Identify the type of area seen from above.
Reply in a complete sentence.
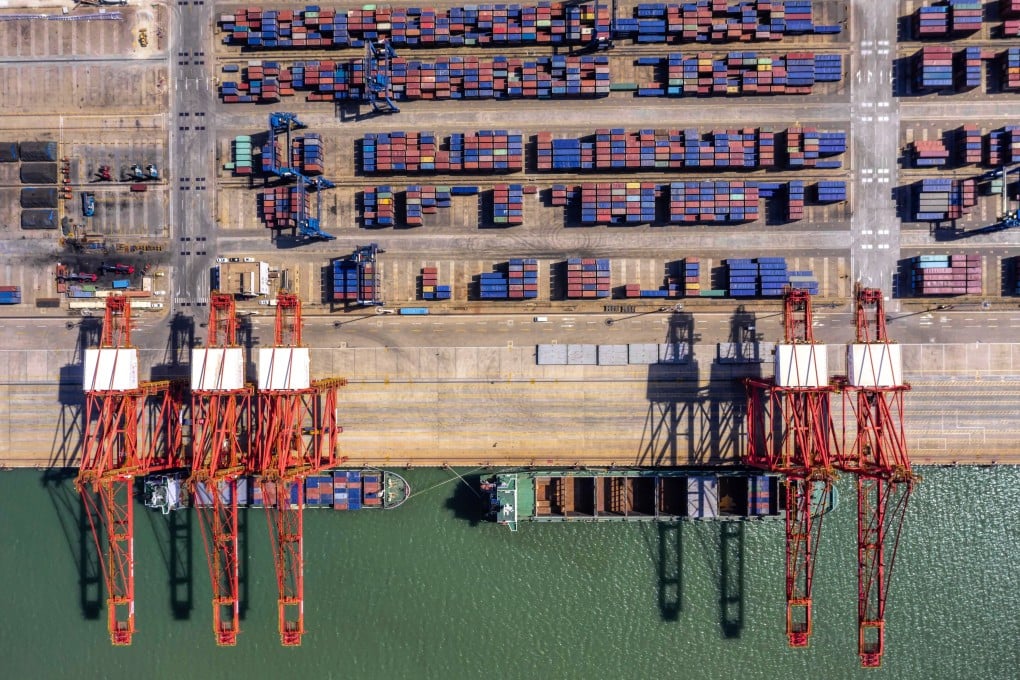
What you see here is a port.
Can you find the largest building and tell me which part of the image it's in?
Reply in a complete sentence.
The largest building is located in the left region of the scene.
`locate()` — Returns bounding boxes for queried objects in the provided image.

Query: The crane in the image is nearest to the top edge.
[585,0,618,51]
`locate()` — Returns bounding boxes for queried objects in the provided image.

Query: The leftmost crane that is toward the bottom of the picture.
[72,290,204,647]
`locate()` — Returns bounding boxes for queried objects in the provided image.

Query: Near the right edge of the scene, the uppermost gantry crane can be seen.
[964,165,1020,235]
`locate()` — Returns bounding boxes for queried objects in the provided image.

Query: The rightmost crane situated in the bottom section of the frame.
[792,286,917,668]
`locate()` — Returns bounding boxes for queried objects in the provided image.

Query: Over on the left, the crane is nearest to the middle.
[356,240,391,308]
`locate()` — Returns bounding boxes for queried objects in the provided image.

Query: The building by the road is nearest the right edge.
[219,262,268,296]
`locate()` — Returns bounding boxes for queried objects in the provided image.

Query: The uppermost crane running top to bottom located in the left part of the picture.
[366,36,402,114]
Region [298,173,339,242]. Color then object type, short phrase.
blue container crane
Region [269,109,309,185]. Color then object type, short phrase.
blue container crane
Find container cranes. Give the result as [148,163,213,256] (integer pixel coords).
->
[256,290,352,647]
[298,173,339,242]
[269,109,309,185]
[356,240,391,308]
[585,0,618,51]
[366,36,402,114]
[72,290,204,647]
[964,165,1020,235]
[729,286,840,648]
[792,286,917,668]
[186,290,280,647]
